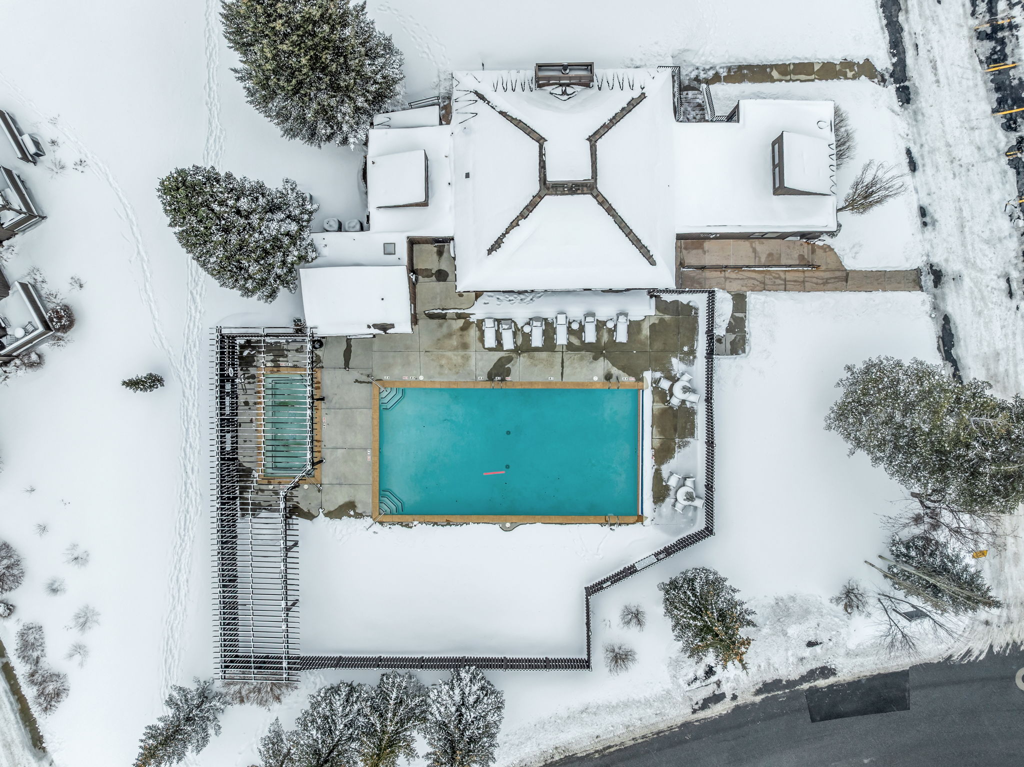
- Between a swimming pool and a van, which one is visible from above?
swimming pool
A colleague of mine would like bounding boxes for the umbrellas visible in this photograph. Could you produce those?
[681,492,695,504]
[677,385,691,397]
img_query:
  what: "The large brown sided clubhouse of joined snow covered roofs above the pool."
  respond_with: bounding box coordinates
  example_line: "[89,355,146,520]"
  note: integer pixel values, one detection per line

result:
[300,61,836,341]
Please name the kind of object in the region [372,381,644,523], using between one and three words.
swimming pool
